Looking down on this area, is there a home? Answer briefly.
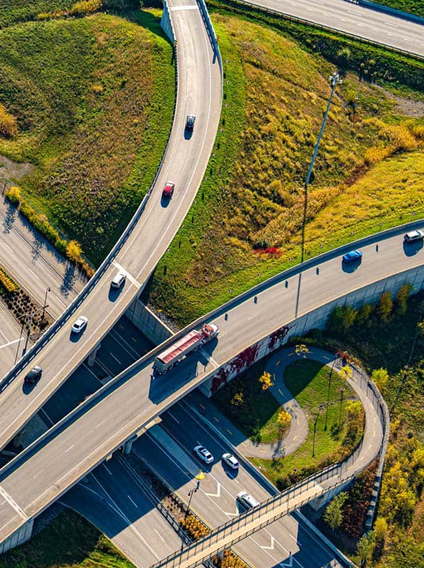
No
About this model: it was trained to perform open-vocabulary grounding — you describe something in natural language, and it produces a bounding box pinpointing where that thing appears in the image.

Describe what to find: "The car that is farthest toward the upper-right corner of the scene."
[402,231,423,243]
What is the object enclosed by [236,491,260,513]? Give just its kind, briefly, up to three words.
vehicle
